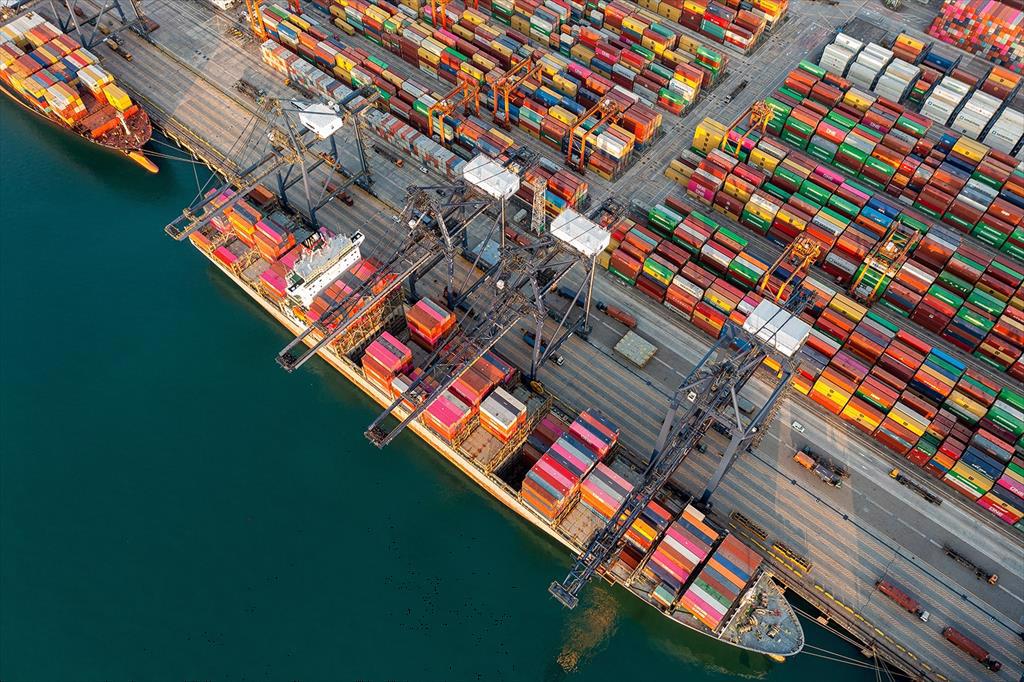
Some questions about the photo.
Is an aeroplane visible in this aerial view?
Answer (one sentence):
No, I can't see a single aeroplane in this photo.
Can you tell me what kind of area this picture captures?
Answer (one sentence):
It's a port.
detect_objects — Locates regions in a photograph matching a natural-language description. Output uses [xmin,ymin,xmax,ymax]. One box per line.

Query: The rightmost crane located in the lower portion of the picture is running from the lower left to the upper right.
[548,297,811,610]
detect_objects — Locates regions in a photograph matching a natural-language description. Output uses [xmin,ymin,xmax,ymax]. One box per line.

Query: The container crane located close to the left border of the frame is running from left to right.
[34,0,136,36]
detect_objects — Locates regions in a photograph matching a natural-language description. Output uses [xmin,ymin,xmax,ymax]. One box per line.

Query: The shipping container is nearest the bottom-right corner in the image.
[947,629,993,664]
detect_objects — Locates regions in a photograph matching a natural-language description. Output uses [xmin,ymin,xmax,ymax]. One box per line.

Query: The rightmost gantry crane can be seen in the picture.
[844,219,921,307]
